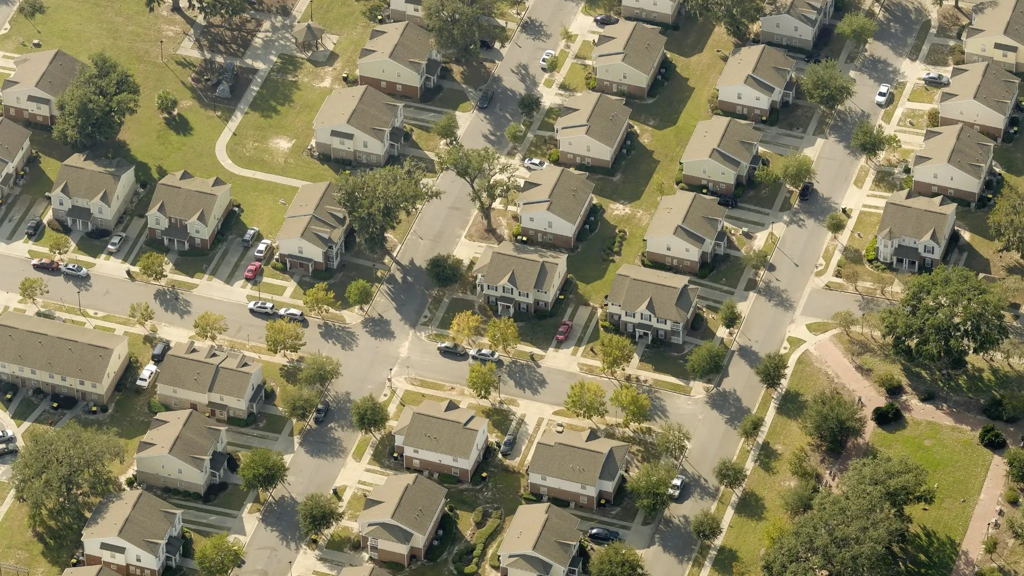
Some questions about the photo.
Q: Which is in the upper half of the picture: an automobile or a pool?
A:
automobile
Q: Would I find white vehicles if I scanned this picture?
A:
Yes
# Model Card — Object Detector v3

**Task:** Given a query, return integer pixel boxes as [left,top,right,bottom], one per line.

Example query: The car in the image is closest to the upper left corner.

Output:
[26,217,43,237]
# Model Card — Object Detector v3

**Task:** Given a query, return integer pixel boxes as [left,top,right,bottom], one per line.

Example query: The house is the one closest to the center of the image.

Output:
[472,241,570,317]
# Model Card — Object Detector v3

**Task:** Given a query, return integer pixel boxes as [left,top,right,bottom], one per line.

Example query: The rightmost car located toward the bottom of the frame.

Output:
[669,476,685,498]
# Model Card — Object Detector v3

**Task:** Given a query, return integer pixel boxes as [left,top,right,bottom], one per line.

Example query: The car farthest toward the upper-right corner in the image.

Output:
[923,73,951,86]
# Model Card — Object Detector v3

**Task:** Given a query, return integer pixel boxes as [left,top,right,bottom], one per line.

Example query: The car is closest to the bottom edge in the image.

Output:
[588,525,618,543]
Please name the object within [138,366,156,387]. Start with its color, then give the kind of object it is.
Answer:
white car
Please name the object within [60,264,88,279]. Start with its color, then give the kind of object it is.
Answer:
gray car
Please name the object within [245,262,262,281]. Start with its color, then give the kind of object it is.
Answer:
red car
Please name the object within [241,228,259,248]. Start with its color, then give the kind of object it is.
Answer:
gray car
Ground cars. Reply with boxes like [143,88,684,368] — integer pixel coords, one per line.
[254,240,272,260]
[588,525,618,543]
[501,434,518,455]
[592,14,620,25]
[151,341,170,363]
[540,50,555,69]
[245,262,262,281]
[241,228,259,248]
[26,217,43,237]
[313,401,330,423]
[138,366,156,387]
[521,157,550,171]
[805,53,832,65]
[107,233,125,253]
[0,444,22,459]
[798,180,814,201]
[715,194,742,209]
[277,307,306,323]
[437,342,466,357]
[60,264,88,279]
[247,301,276,316]
[556,322,573,342]
[876,85,891,105]
[478,89,493,108]
[669,476,685,498]
[31,258,59,272]
[923,73,951,86]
